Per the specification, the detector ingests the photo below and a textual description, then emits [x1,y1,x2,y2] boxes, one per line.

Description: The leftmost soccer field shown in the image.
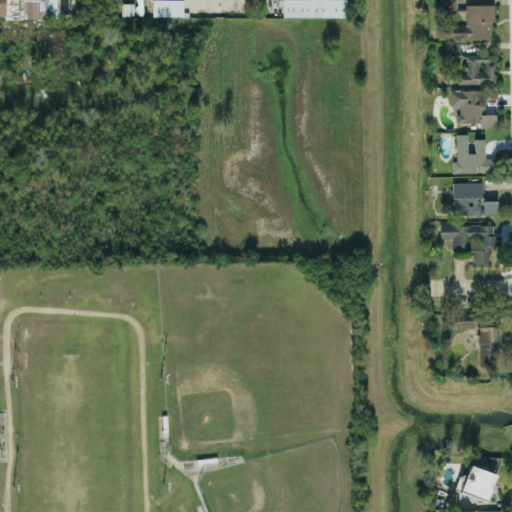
[22,341,125,512]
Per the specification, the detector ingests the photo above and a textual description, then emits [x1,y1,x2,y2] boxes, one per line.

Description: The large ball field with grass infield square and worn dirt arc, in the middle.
[166,266,352,455]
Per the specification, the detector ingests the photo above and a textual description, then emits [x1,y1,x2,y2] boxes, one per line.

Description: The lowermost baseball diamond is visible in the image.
[214,433,340,512]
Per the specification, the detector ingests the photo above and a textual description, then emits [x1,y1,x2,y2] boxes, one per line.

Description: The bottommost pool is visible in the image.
[437,462,460,488]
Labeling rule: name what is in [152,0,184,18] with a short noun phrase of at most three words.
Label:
shed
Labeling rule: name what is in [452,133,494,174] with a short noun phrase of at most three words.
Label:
house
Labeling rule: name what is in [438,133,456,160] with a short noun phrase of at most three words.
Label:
swimming pool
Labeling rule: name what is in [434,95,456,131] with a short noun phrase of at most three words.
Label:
swimming pool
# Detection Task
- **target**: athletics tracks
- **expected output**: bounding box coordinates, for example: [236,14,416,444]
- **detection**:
[2,306,152,512]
